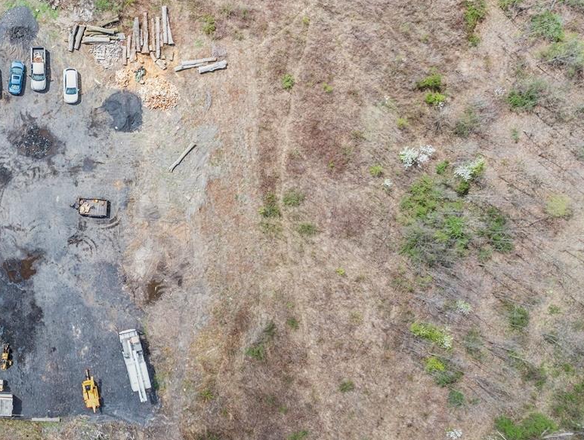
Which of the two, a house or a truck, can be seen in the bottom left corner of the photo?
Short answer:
truck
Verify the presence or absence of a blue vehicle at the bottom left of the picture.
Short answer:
No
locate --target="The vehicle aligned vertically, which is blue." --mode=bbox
[8,60,25,96]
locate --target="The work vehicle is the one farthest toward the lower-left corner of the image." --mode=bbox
[0,343,13,368]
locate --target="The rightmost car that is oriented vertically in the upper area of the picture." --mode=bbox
[63,67,80,104]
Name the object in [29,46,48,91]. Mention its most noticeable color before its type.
white vehicle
